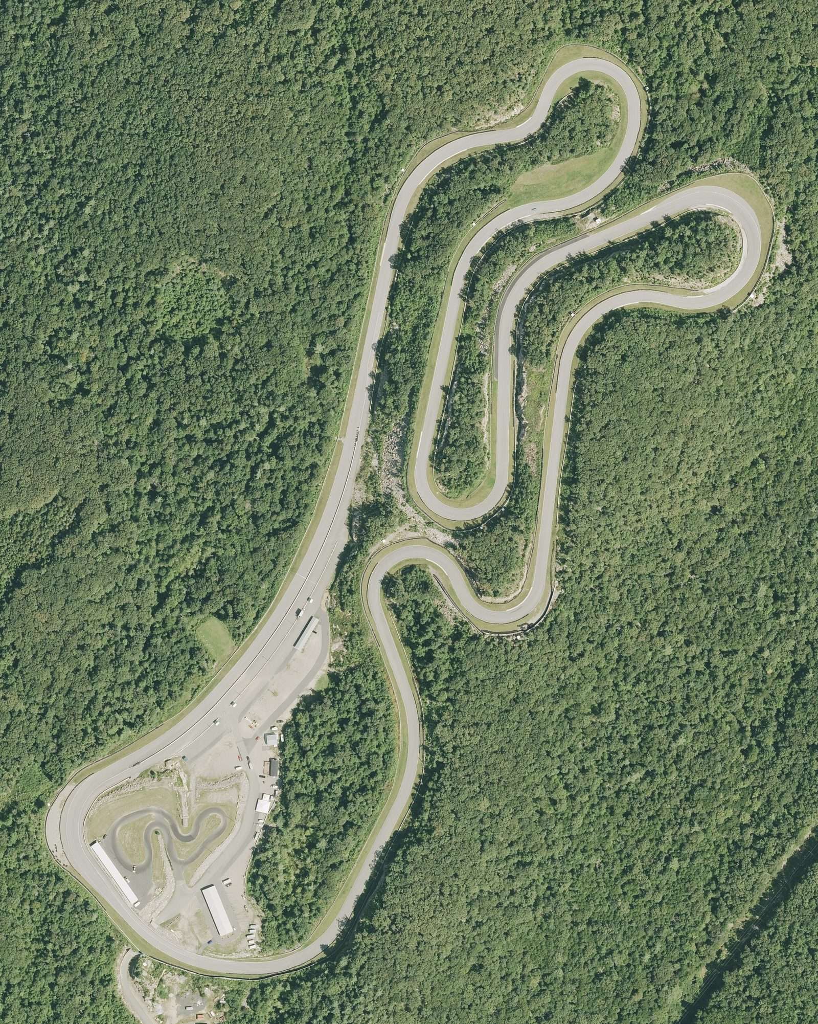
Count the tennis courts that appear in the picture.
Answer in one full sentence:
There are no tennis courts in this view.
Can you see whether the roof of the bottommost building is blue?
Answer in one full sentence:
No, the color of the roof of the bottommost building is white.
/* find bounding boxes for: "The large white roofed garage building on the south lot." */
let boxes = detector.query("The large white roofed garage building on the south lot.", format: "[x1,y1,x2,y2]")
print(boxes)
[204,889,236,940]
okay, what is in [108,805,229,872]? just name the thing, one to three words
race track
